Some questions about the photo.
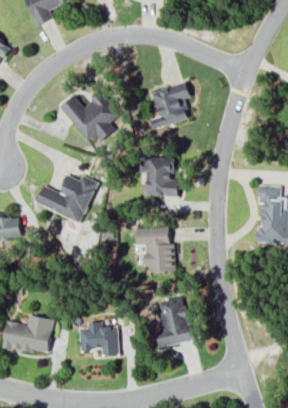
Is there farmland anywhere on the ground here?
No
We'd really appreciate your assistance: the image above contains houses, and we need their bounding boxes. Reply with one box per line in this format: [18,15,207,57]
[156,296,194,348]
[0,214,19,248]
[140,158,178,197]
[80,322,119,360]
[150,82,192,130]
[135,228,176,274]
[26,0,68,26]
[256,186,288,244]
[62,92,118,138]
[2,316,54,355]
[36,173,100,222]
